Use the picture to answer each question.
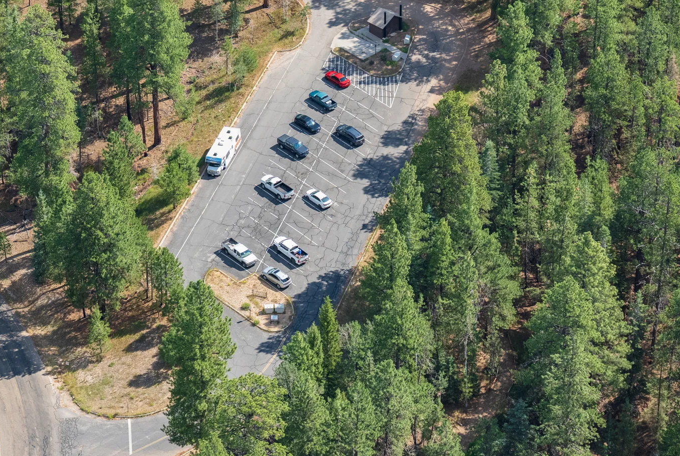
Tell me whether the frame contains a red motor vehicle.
Yes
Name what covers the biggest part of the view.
trees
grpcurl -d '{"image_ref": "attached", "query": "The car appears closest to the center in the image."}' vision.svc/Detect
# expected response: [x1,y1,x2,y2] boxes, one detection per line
[304,188,333,209]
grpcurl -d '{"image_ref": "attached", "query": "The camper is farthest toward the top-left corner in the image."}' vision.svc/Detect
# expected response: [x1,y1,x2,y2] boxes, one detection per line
[207,128,239,173]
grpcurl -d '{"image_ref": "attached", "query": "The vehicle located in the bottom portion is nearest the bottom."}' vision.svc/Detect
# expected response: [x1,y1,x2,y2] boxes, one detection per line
[260,267,293,289]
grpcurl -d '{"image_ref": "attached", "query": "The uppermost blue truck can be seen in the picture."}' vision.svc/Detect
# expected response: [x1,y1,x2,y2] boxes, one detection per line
[306,88,338,109]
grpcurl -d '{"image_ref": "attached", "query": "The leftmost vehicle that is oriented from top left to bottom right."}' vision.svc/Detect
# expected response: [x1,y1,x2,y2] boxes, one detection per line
[222,239,259,268]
